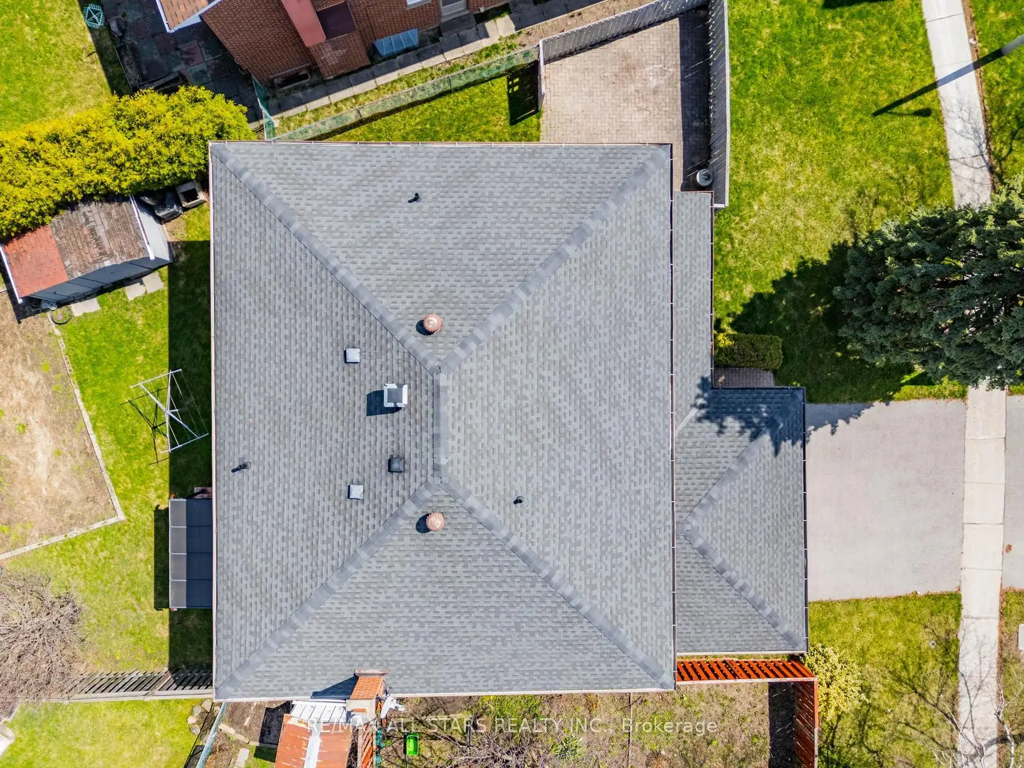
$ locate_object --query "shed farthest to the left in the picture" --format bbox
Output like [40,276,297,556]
[0,183,168,302]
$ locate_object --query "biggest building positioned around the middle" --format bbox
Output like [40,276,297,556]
[207,139,811,736]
